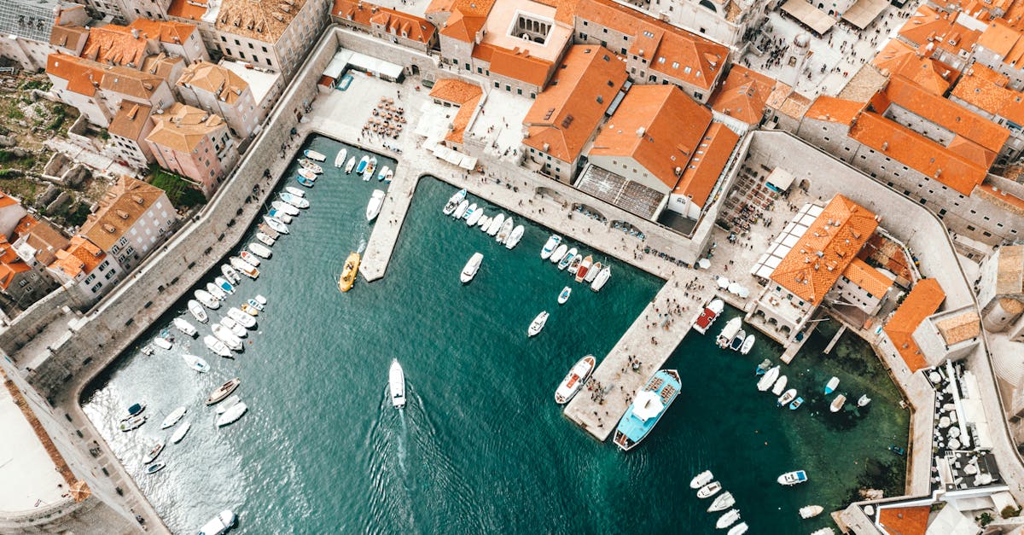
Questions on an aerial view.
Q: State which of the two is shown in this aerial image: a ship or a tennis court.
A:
ship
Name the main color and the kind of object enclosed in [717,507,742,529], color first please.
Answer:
white boat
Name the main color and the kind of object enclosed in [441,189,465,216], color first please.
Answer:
white boat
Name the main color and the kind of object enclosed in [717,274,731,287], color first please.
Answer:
white umbrella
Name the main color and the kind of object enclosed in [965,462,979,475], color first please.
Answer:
white umbrella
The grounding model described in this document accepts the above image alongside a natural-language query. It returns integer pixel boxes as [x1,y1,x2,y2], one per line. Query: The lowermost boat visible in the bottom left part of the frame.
[194,513,236,535]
